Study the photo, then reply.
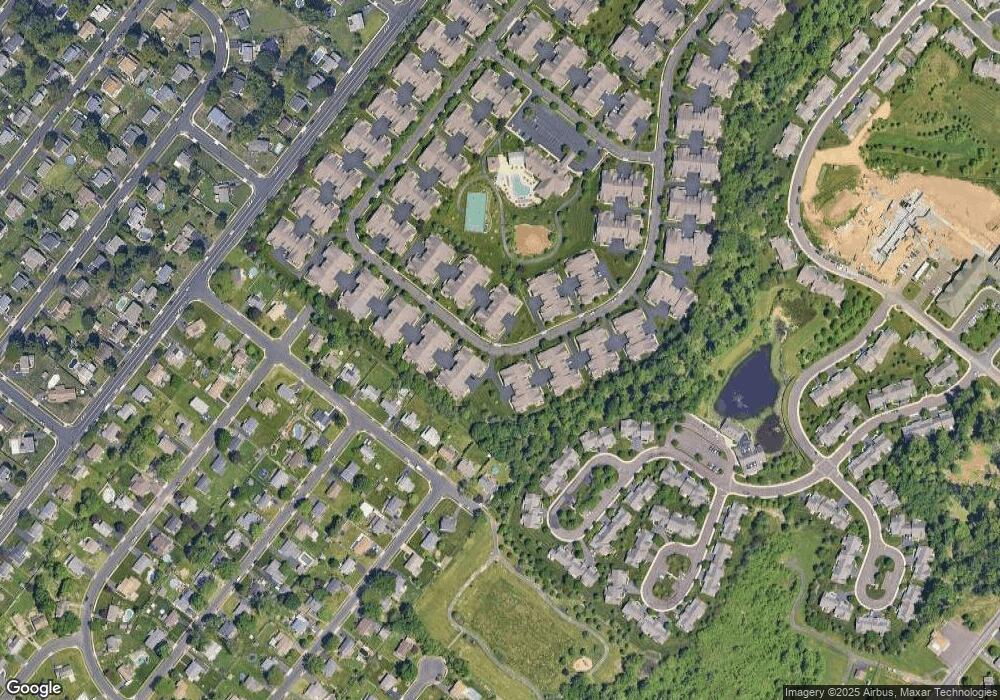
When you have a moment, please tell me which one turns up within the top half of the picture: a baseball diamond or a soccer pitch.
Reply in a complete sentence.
What appears within the top half of the picture is a baseball diamond.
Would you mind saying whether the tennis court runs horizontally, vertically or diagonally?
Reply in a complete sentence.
The tennis court is oriented vertically.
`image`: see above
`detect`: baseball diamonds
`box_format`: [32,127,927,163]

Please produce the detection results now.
[516,225,551,256]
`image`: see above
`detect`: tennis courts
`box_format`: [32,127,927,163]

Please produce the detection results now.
[465,192,487,233]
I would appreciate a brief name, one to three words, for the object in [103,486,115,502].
swimming pool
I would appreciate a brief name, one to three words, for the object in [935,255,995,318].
building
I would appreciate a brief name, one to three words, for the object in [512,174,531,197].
swimming pool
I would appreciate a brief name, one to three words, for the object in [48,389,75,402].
house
